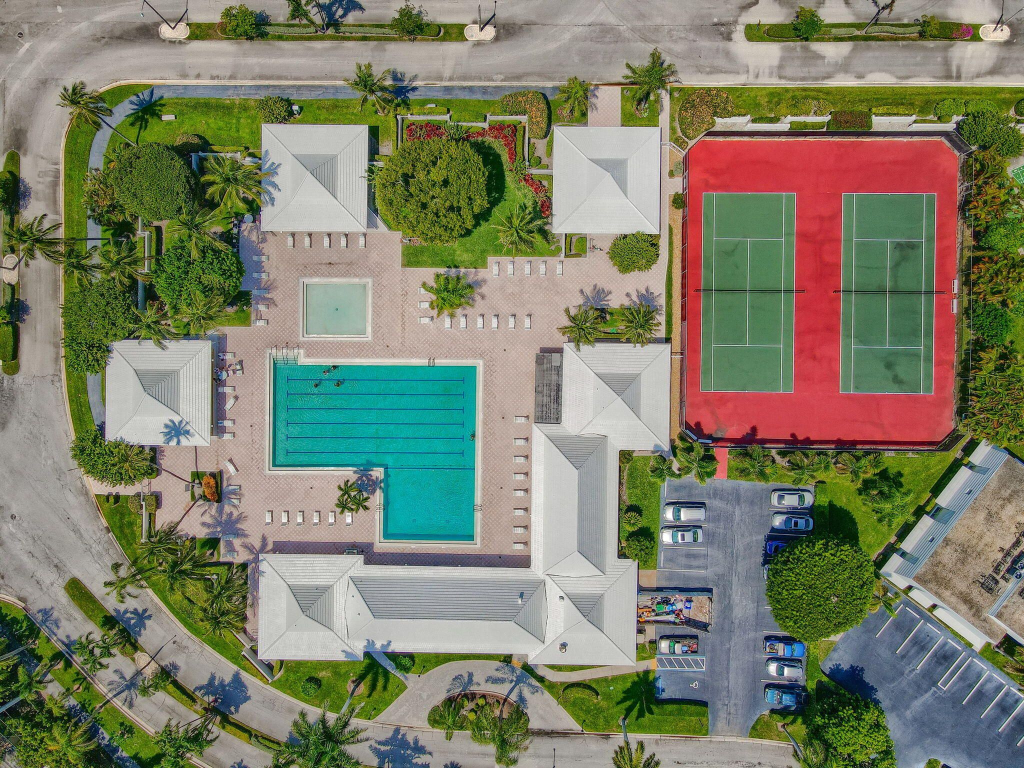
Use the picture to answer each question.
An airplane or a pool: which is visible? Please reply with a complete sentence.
The one in the frame is a pool.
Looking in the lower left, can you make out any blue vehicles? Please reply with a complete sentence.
No, no blue vehicle appears in the lower left.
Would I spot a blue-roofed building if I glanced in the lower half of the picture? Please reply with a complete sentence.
No, no blue-roofed building appears in the lower half of the picture.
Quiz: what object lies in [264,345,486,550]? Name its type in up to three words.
swimming pool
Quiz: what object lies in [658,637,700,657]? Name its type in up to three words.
vehicle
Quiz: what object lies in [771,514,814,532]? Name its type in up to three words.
car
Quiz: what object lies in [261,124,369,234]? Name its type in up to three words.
building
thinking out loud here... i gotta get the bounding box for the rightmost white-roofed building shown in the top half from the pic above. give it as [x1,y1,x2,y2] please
[553,126,661,235]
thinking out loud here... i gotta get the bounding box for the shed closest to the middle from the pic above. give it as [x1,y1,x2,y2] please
[535,353,562,423]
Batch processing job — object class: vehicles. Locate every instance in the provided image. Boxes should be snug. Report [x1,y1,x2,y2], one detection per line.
[658,637,700,657]
[762,639,807,659]
[765,659,805,678]
[770,490,813,508]
[765,539,806,556]
[771,514,814,532]
[765,685,809,705]
[661,527,703,545]
[664,503,707,522]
